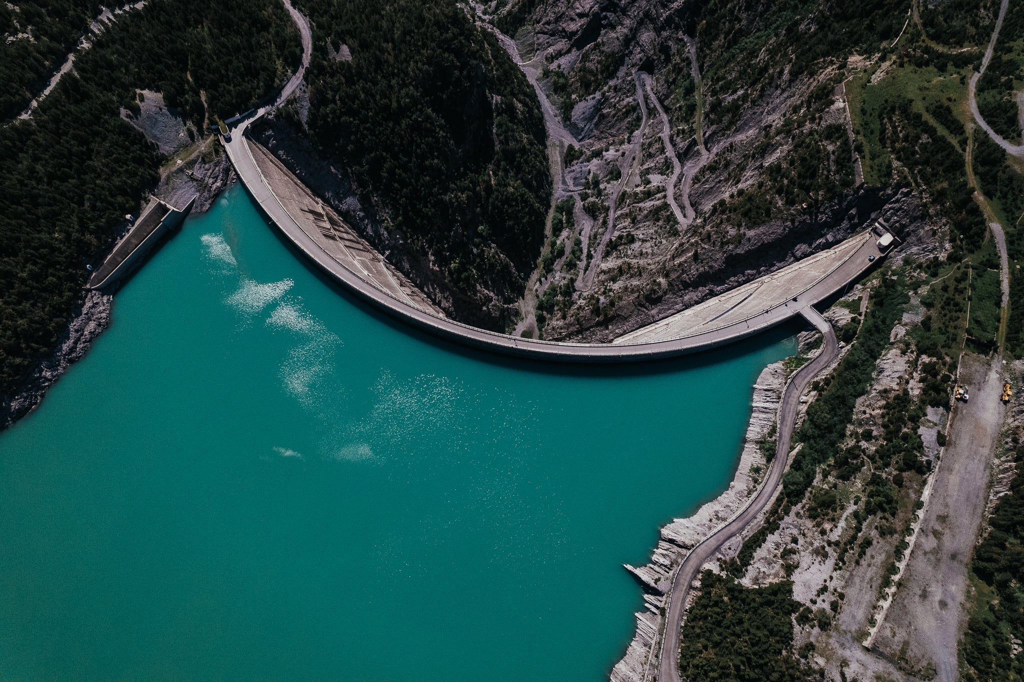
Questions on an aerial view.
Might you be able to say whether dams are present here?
Yes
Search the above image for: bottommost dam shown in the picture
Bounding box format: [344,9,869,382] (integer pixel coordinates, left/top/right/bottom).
[221,137,894,363]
